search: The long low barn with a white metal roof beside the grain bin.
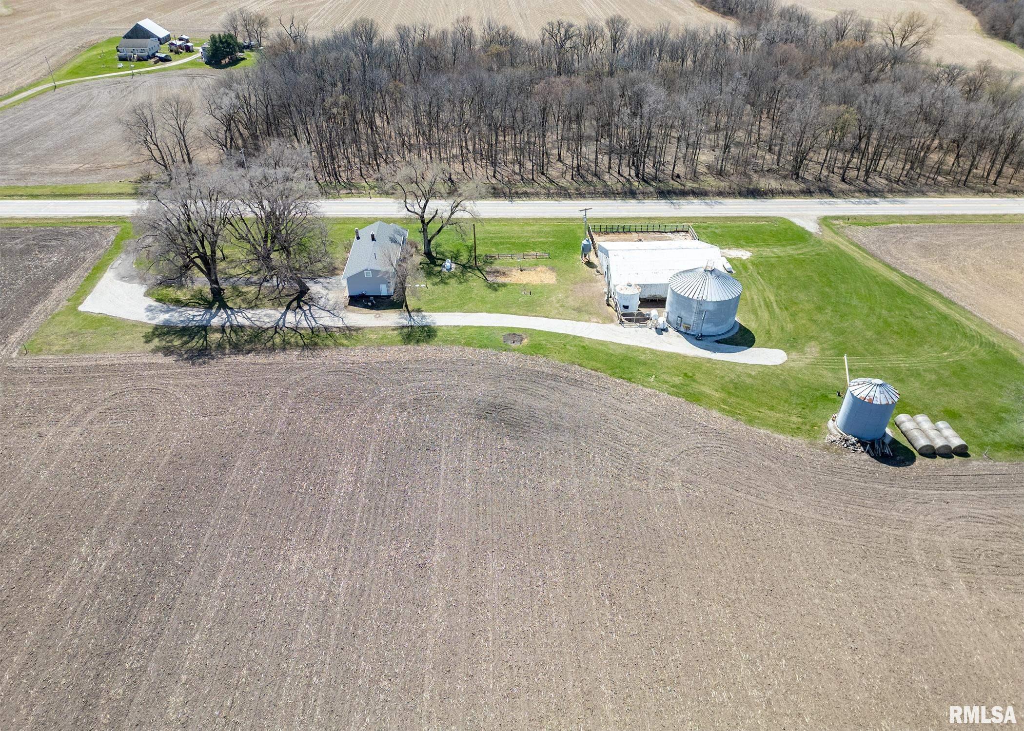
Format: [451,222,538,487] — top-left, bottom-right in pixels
[598,239,732,296]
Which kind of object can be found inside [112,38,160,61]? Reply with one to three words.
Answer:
house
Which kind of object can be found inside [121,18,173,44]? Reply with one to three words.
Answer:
barn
